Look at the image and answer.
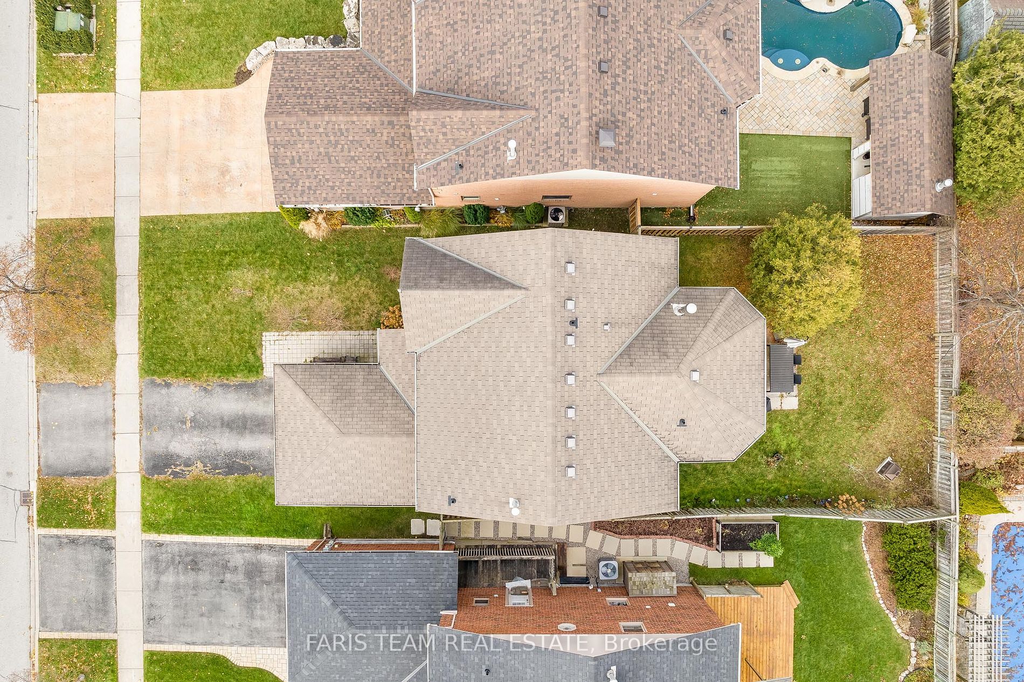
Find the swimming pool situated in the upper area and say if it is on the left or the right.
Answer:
right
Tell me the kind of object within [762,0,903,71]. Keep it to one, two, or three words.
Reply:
swimming pool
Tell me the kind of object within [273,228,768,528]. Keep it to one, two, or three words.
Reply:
house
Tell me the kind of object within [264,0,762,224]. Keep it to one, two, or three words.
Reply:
house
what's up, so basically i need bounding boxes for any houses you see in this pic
[284,533,743,682]
[264,0,762,224]
[273,228,768,528]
